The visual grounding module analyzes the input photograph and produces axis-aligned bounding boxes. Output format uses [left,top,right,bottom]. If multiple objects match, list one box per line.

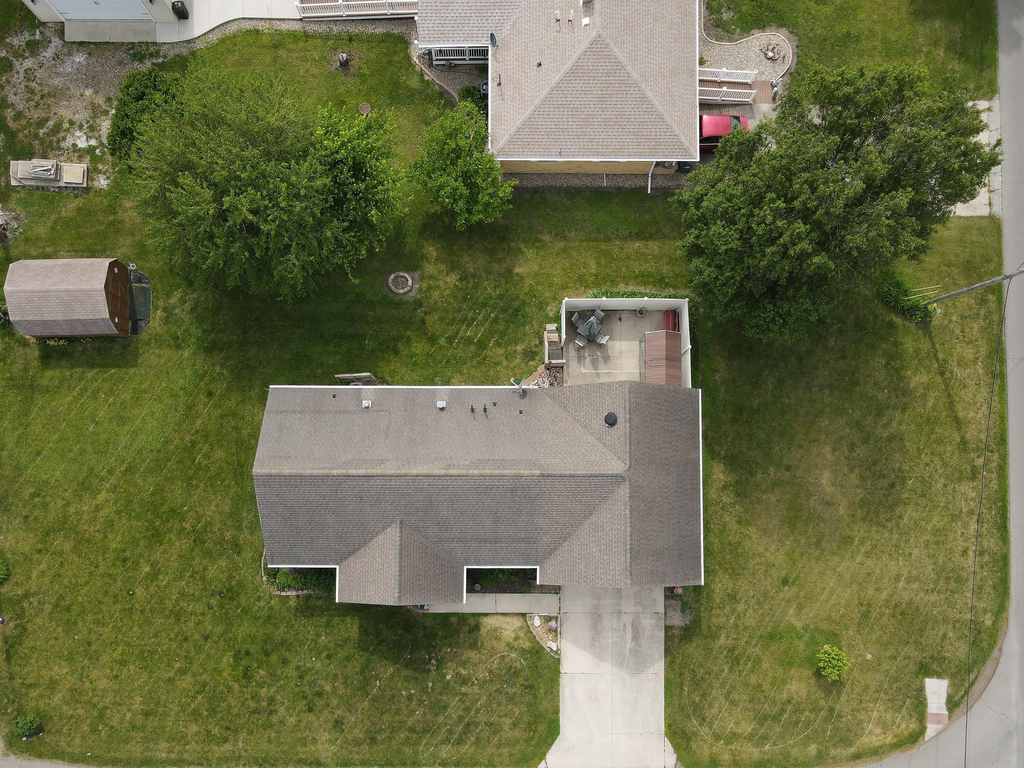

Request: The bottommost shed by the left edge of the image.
[6,259,132,338]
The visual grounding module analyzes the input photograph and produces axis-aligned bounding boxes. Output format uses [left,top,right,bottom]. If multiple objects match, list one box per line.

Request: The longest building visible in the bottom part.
[253,382,705,605]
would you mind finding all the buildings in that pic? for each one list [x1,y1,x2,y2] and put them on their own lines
[417,0,702,193]
[253,382,705,605]
[22,0,178,24]
[6,259,132,338]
